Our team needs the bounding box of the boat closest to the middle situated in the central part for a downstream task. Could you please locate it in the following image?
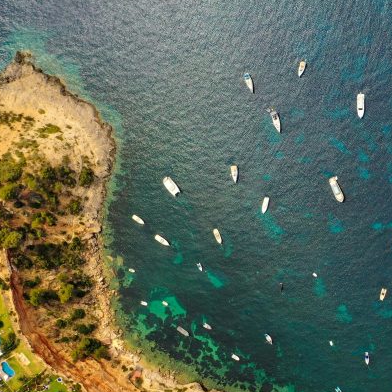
[162,176,180,197]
